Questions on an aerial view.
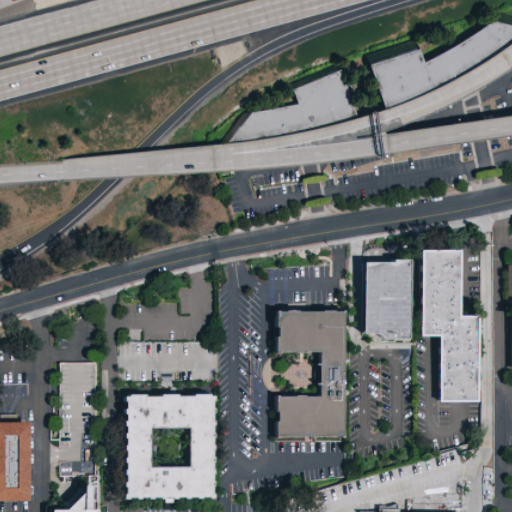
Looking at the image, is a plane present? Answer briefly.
No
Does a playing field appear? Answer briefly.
No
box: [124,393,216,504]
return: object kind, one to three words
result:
building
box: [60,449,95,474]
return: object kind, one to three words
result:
house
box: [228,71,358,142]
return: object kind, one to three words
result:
building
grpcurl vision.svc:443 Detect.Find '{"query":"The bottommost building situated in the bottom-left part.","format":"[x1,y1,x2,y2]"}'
[51,474,100,512]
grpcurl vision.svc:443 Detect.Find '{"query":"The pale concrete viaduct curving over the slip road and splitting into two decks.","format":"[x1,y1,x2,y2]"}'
[0,44,512,183]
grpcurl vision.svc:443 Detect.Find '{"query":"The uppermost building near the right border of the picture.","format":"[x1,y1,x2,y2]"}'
[370,21,512,108]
